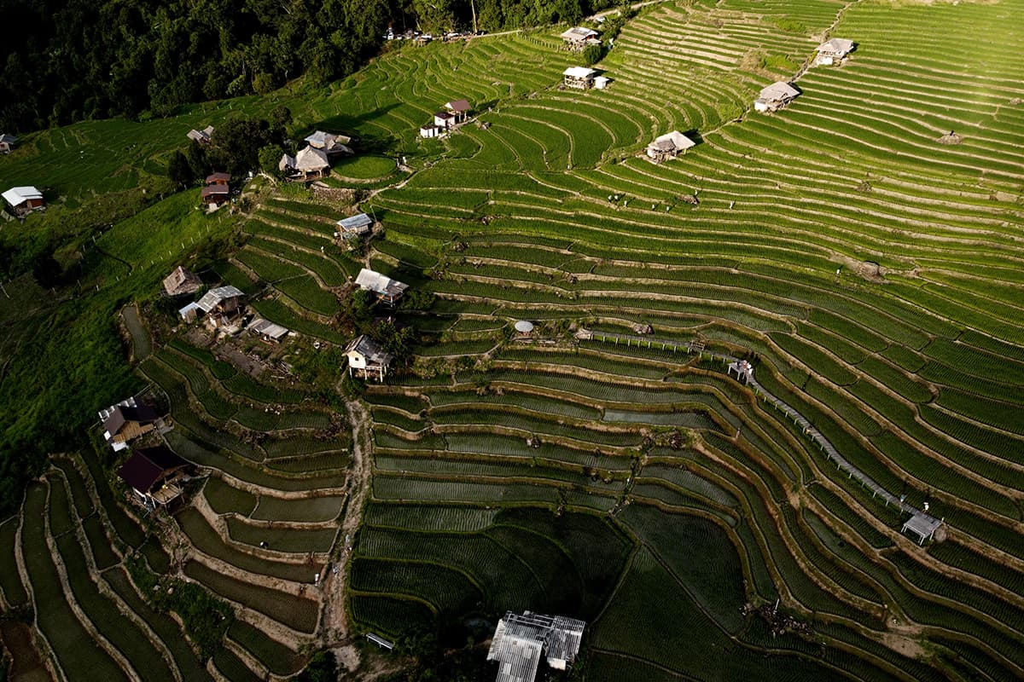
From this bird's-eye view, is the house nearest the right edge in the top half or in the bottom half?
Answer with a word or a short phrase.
top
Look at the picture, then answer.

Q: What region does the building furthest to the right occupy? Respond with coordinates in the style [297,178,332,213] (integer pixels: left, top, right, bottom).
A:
[817,38,857,72]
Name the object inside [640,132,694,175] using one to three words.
house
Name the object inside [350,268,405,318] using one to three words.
house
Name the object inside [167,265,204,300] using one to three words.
shed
